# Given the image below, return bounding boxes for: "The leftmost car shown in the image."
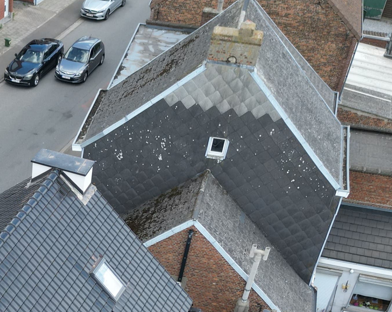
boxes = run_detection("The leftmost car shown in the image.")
[3,40,64,87]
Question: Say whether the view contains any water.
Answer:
No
